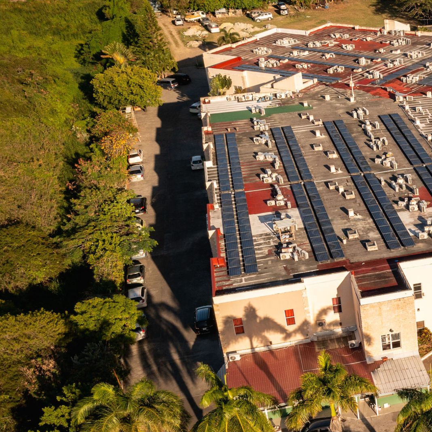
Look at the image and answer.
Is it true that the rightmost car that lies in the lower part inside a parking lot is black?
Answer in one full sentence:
Yes, the rightmost car that lies in the lower part inside a parking lot is indeed black.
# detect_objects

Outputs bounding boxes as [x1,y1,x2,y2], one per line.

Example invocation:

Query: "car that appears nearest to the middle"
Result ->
[188,153,205,171]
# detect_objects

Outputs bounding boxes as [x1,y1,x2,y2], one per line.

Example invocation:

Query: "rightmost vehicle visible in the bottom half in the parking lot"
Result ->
[189,303,216,339]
